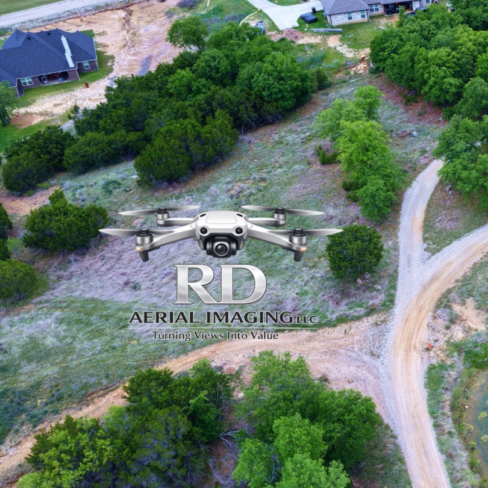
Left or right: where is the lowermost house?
left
